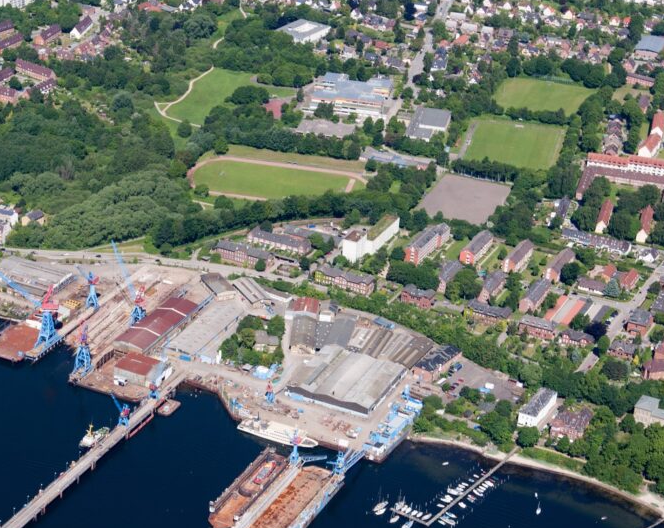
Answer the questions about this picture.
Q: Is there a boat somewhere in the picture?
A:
Yes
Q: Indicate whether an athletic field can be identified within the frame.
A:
Yes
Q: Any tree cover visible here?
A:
Yes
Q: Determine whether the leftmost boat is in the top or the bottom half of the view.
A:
bottom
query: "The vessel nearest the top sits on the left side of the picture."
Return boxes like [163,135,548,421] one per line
[157,399,181,417]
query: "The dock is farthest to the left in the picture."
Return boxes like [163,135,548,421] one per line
[0,316,39,364]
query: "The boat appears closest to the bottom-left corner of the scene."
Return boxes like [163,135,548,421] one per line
[79,418,111,448]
